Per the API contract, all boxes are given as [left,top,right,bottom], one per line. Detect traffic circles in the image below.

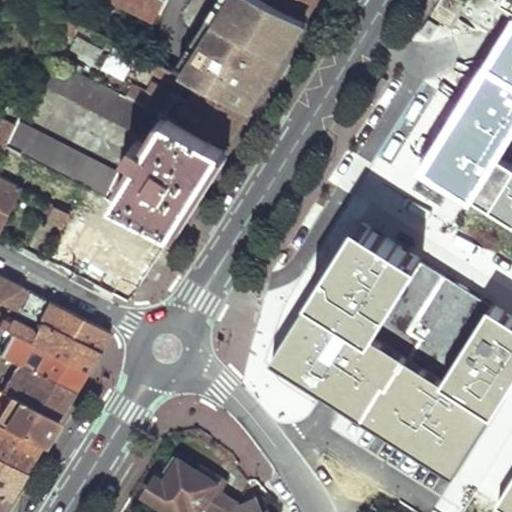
[110,291,236,422]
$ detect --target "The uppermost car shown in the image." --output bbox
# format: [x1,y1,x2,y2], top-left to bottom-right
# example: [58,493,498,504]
[450,60,471,75]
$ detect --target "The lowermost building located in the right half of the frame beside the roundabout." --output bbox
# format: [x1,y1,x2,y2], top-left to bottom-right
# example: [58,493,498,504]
[268,226,512,480]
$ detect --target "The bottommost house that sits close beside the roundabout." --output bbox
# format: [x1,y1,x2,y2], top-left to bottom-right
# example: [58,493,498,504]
[132,452,262,512]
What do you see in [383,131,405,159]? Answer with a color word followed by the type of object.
white vehicle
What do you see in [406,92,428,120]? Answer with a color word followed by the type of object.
white vehicle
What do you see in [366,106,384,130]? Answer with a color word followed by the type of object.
white car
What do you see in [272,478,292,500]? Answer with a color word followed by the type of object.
white car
